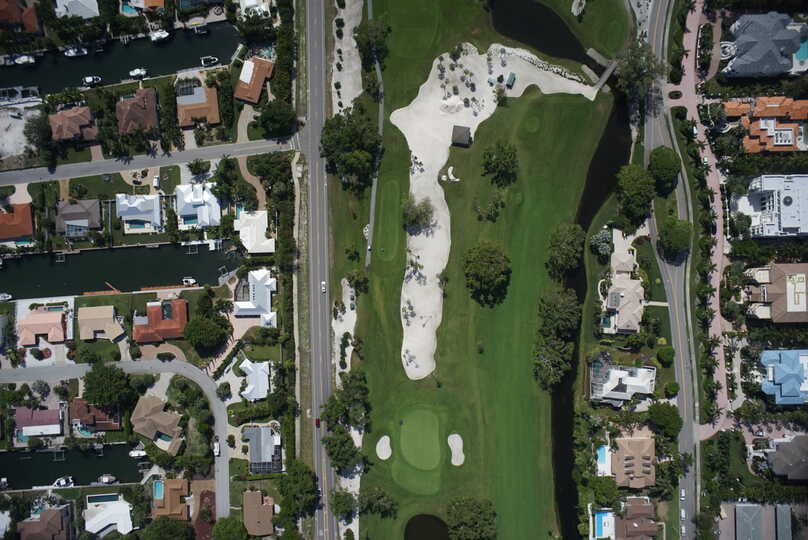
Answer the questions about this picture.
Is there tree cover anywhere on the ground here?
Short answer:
Yes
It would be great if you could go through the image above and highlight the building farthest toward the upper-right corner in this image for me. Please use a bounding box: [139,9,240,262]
[720,10,801,77]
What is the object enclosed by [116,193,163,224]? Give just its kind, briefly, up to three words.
house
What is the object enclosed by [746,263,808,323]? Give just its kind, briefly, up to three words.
house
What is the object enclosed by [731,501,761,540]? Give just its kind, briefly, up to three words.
building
